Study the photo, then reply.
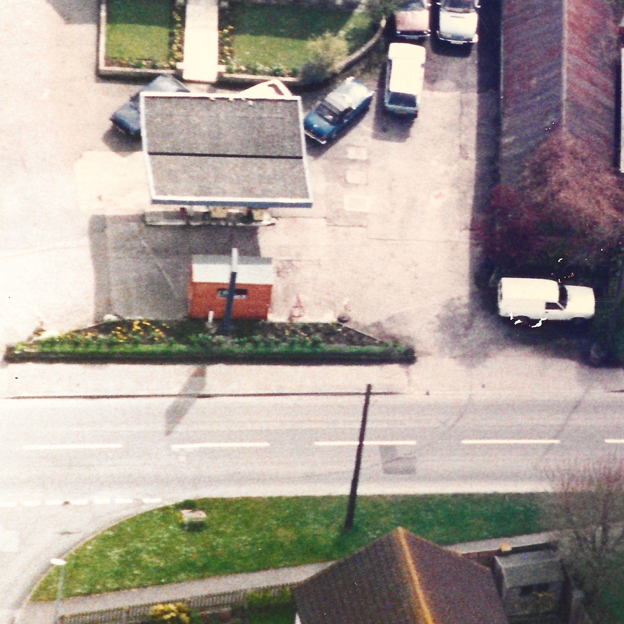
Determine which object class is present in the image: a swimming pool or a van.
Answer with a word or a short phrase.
van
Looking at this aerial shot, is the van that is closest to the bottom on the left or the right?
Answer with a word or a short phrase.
right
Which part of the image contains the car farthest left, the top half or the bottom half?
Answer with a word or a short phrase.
top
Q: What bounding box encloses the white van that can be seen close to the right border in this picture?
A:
[497,281,599,333]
